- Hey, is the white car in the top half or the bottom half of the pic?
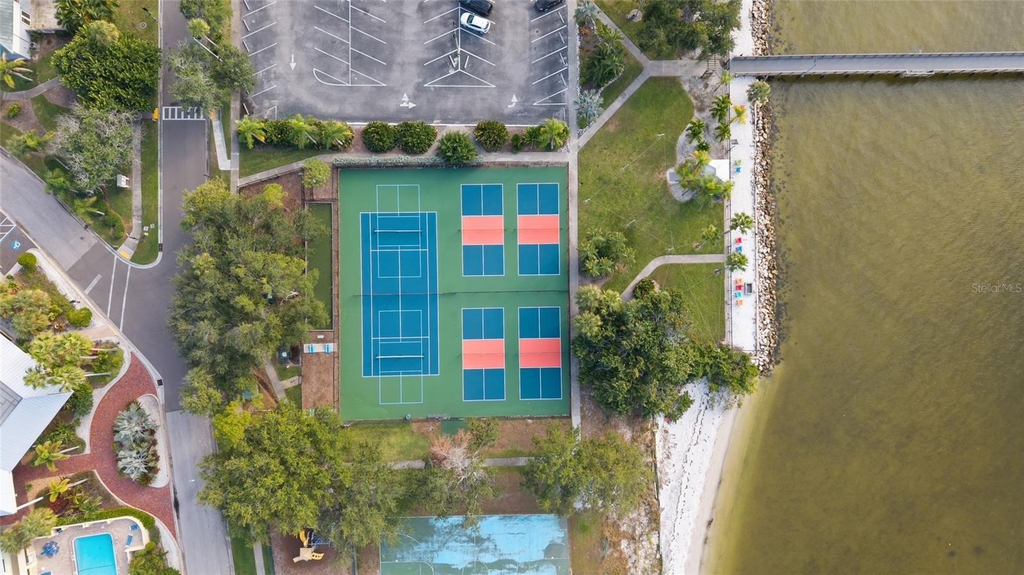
top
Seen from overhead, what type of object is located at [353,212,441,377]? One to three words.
tennis court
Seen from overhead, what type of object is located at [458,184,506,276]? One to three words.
sports court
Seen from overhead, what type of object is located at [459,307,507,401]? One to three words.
sports court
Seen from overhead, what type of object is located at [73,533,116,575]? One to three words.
swimming pool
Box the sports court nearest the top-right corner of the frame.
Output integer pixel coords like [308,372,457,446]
[514,183,562,275]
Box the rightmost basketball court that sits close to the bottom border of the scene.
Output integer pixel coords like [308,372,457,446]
[380,514,569,575]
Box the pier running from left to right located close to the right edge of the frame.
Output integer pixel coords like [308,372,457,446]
[728,51,1024,79]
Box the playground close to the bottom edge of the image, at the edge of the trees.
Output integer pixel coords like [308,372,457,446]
[292,531,330,565]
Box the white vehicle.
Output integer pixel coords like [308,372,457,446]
[460,12,492,34]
